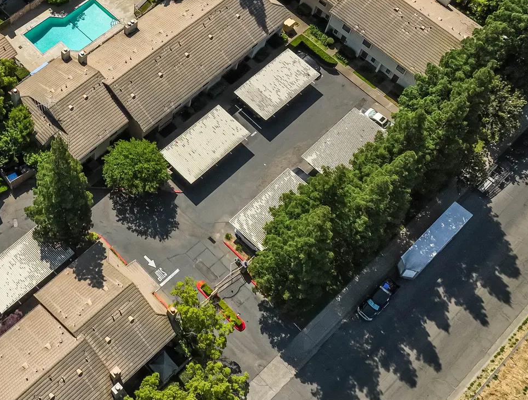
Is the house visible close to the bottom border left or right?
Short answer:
left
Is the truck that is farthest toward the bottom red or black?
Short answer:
black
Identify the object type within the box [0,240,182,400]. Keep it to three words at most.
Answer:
house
